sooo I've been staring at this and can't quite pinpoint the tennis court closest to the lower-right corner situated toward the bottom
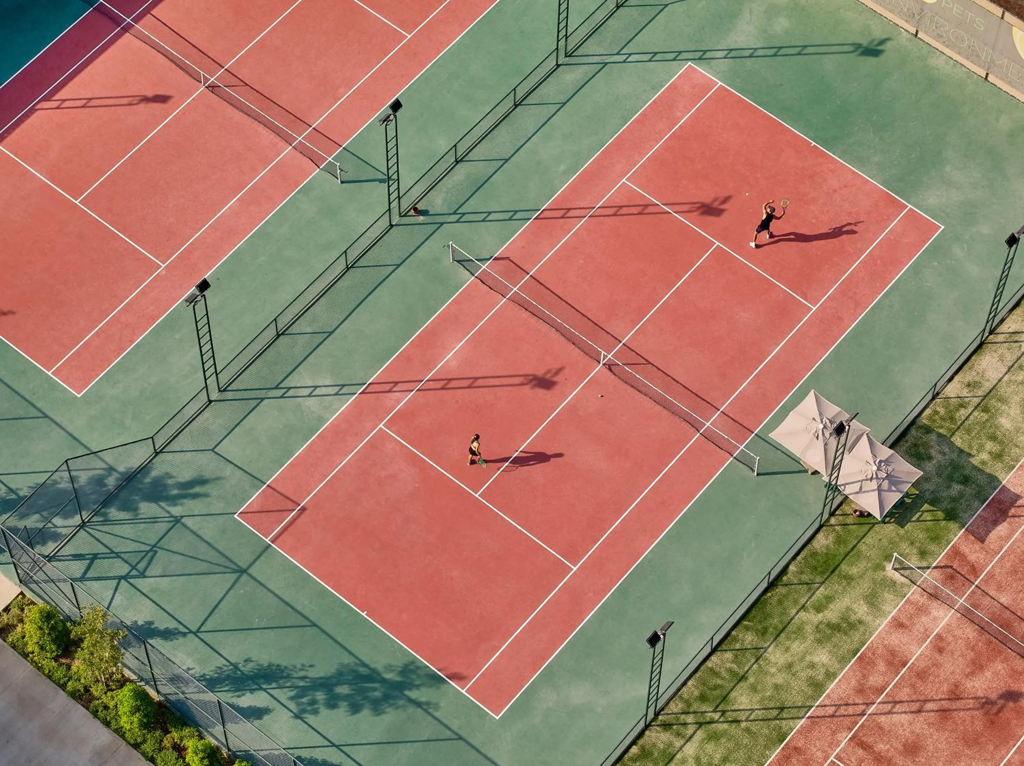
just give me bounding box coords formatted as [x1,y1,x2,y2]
[618,301,1024,766]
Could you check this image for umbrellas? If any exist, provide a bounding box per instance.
[823,433,922,521]
[770,390,869,477]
